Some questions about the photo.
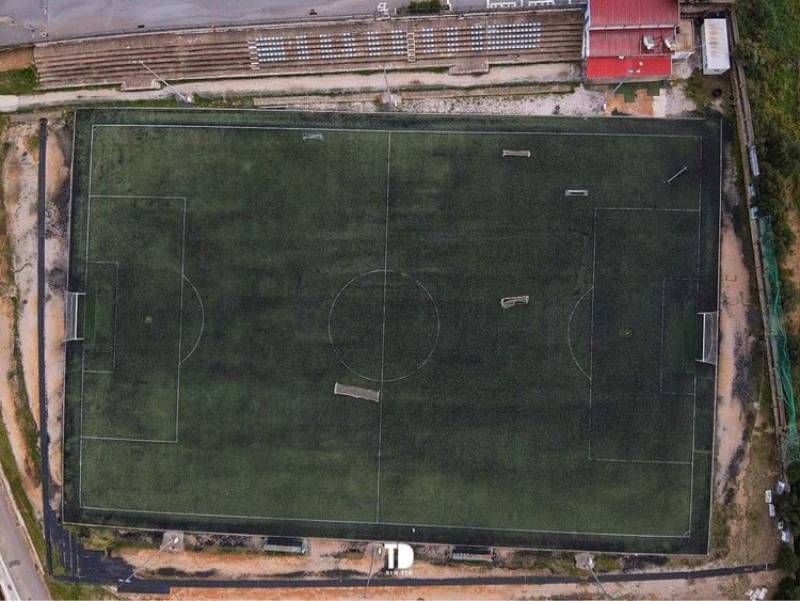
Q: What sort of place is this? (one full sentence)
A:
This image shows a sports ground.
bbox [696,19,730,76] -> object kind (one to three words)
building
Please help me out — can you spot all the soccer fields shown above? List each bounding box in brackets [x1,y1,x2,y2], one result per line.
[61,108,723,555]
